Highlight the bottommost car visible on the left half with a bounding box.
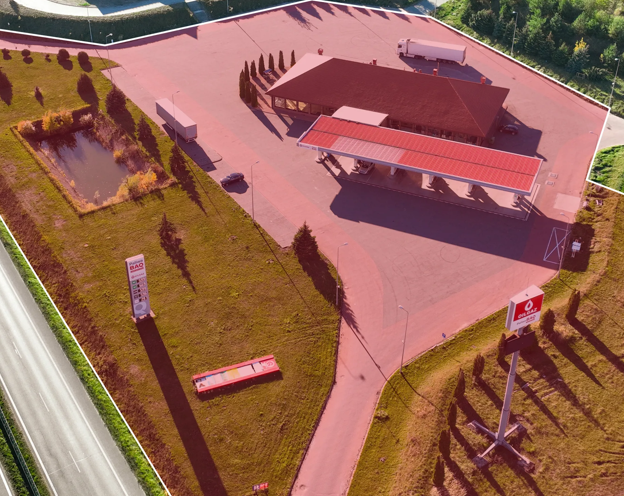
[219,170,247,185]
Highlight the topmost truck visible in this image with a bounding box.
[398,38,467,63]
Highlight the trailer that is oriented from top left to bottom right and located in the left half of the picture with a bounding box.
[156,98,198,143]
